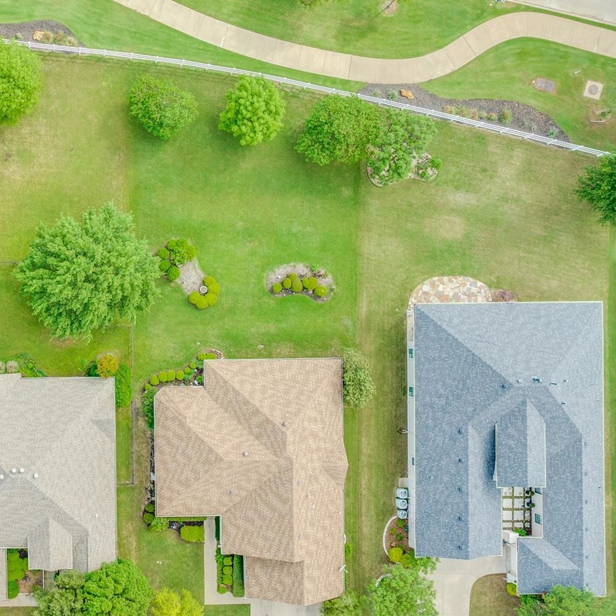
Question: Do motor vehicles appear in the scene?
No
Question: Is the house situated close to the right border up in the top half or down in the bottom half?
bottom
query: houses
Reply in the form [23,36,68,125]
[0,373,117,603]
[409,303,604,600]
[154,358,348,608]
